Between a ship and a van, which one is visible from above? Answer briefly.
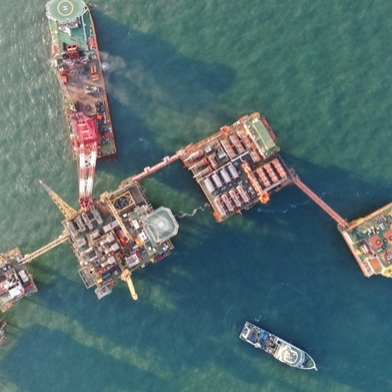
ship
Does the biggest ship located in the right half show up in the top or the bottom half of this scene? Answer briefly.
bottom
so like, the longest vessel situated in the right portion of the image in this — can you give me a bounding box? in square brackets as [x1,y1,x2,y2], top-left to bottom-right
[239,321,319,371]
